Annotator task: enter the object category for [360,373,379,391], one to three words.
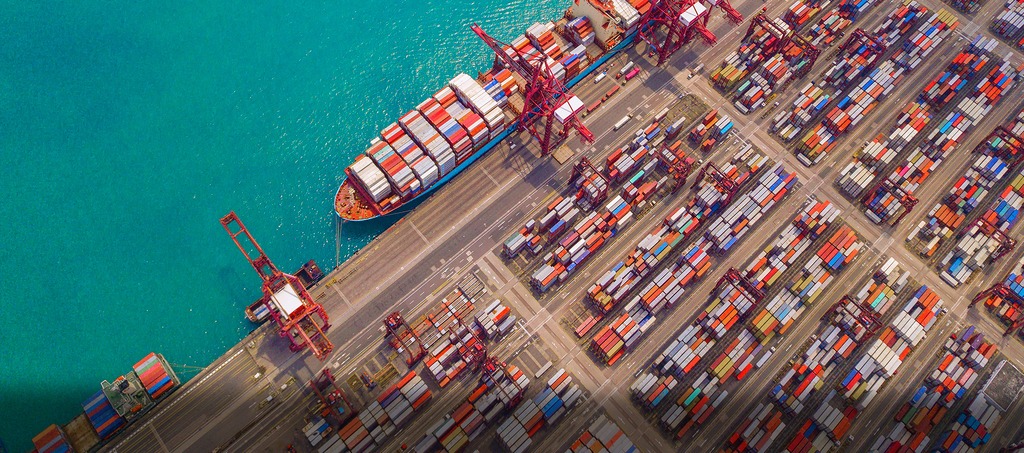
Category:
work vehicle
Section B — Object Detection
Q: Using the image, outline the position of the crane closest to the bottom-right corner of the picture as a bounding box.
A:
[967,285,1024,333]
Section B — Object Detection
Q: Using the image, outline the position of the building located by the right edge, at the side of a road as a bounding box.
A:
[972,360,1024,412]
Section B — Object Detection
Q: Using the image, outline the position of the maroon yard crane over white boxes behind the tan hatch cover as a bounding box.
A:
[570,159,612,207]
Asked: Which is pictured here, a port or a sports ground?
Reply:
port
